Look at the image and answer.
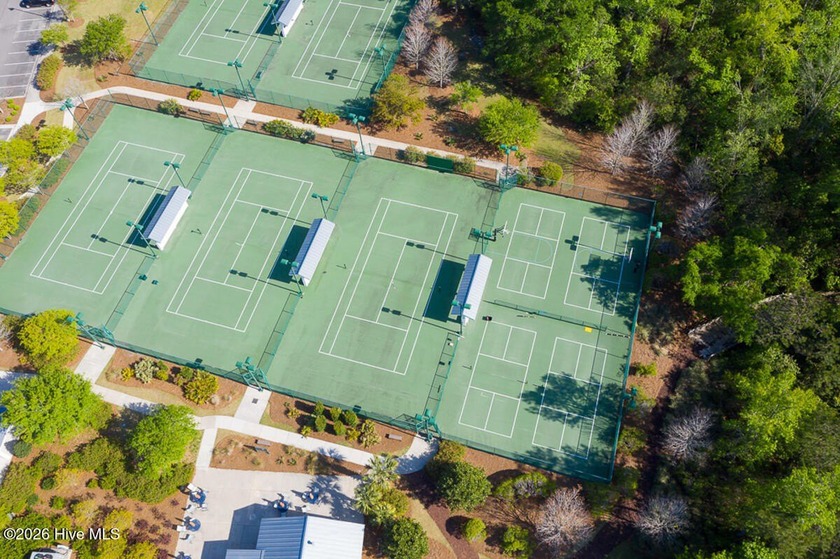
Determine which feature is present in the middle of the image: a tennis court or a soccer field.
tennis court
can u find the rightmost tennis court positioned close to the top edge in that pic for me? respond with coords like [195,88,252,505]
[248,0,418,121]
